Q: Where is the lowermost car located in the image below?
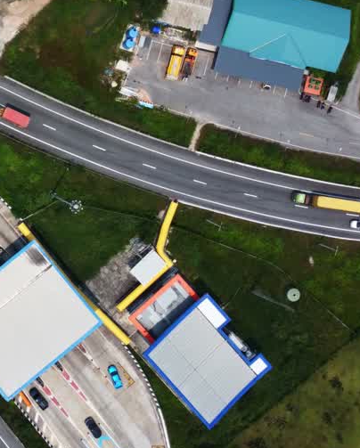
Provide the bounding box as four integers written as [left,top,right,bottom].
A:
[85,416,103,439]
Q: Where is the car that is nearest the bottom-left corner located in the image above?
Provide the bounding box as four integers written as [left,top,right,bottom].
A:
[30,388,48,409]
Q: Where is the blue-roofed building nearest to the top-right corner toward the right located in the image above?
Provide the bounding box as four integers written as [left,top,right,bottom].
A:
[196,0,351,91]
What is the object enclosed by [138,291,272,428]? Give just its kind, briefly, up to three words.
building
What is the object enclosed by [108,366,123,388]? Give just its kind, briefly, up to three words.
car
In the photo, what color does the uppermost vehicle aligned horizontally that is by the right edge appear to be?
yellow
